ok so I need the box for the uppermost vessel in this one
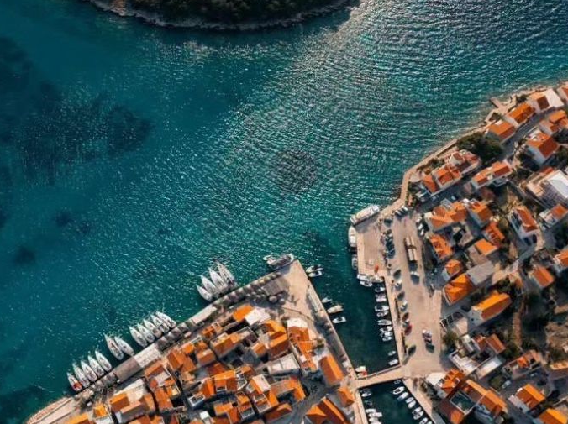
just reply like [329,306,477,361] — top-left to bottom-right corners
[348,206,379,225]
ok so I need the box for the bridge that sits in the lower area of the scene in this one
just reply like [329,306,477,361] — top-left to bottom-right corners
[356,364,403,390]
